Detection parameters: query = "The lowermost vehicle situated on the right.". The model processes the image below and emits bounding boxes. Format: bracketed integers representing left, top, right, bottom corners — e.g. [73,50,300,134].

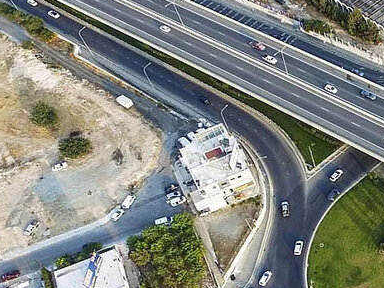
[258,270,272,286]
